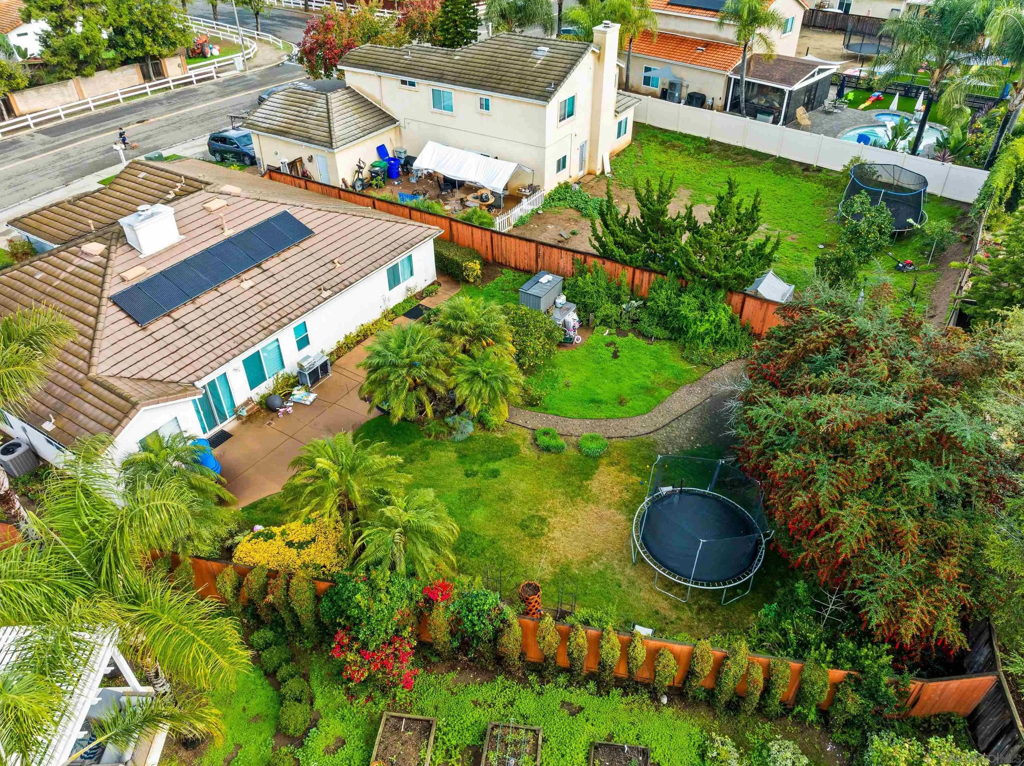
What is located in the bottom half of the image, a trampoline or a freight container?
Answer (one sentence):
There is a trampoline in the bottom half of the image.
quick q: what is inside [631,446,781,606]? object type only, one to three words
trampoline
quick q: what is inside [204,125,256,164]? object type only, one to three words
car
